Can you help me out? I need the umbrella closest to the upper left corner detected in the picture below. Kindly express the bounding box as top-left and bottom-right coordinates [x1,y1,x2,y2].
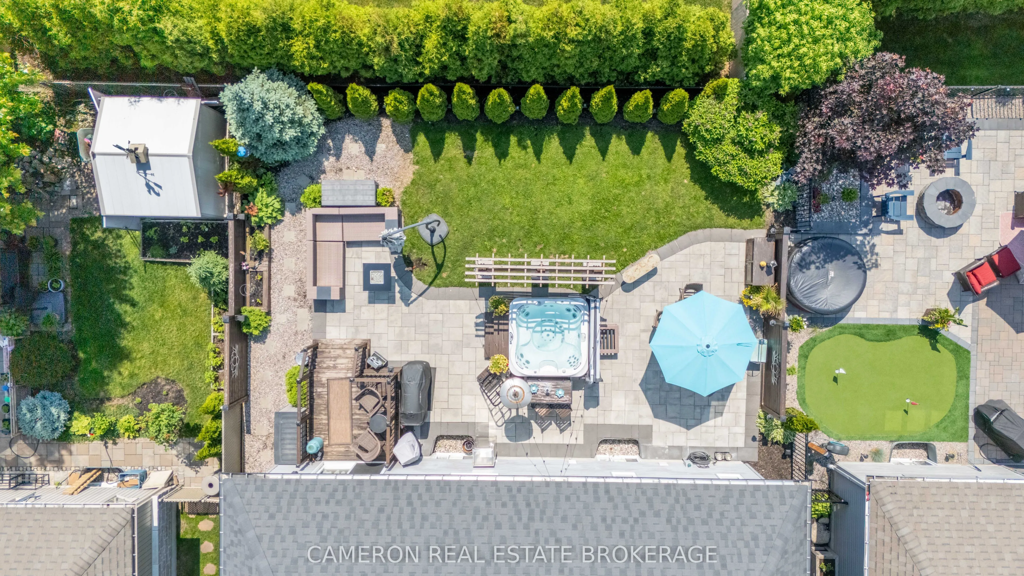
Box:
[378,214,448,259]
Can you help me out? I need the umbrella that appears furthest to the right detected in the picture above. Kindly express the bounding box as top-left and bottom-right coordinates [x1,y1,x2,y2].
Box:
[649,290,757,397]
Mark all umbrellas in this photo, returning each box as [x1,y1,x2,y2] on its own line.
[649,290,757,397]
[378,214,448,259]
